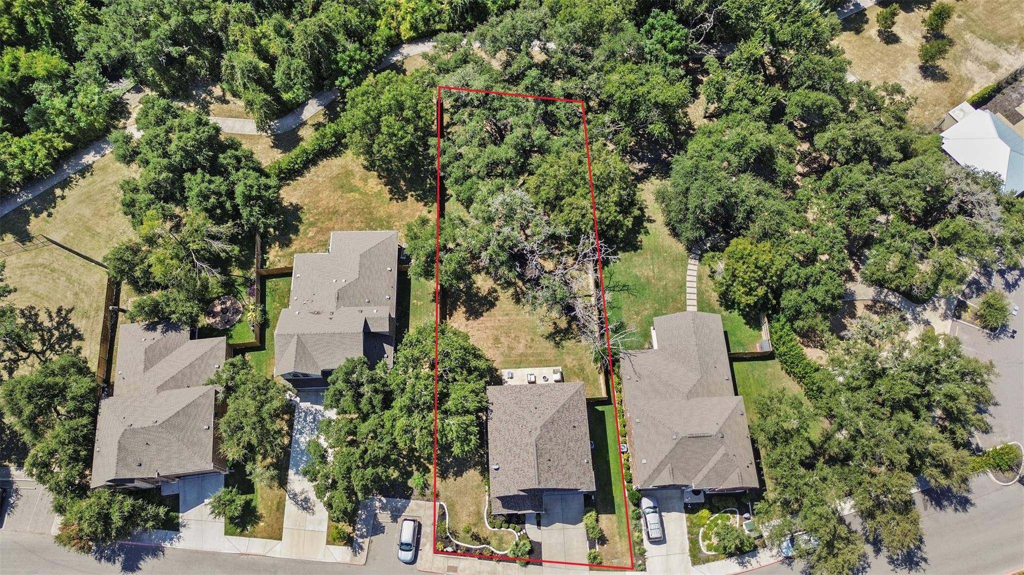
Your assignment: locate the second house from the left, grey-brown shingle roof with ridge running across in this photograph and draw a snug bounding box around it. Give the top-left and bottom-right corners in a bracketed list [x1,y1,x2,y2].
[274,229,398,391]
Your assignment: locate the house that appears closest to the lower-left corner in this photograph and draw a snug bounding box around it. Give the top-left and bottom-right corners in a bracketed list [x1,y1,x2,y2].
[91,322,231,493]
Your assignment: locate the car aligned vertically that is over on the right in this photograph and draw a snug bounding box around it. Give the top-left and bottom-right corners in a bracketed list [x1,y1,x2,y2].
[638,498,664,544]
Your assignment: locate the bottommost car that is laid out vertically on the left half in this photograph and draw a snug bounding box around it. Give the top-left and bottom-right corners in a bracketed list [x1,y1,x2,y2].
[396,517,420,566]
